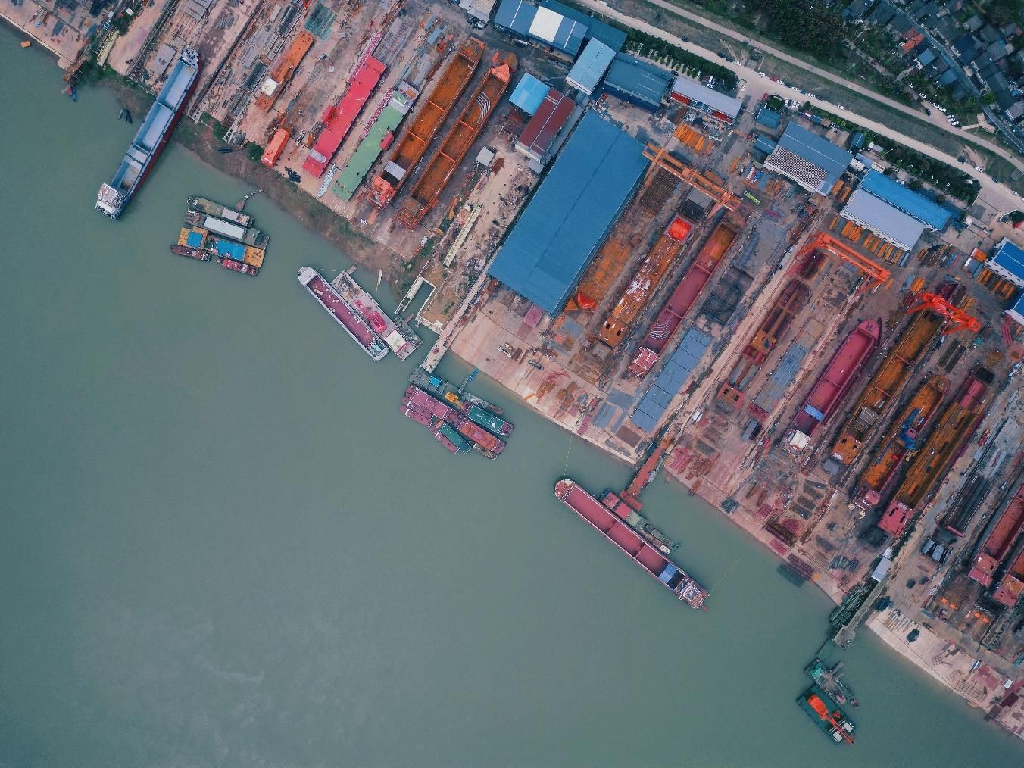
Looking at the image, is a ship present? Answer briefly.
Yes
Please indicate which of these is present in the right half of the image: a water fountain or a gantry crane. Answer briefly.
gantry crane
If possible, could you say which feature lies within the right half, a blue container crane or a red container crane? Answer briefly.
red container crane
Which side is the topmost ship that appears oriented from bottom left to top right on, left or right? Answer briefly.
left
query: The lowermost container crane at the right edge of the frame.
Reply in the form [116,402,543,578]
[904,288,980,339]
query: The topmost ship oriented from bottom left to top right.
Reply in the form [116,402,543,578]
[256,34,312,112]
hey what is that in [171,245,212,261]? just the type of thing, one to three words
boat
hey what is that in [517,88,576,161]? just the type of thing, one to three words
building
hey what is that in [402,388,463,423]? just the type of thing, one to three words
ship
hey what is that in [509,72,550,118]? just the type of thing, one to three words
shed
